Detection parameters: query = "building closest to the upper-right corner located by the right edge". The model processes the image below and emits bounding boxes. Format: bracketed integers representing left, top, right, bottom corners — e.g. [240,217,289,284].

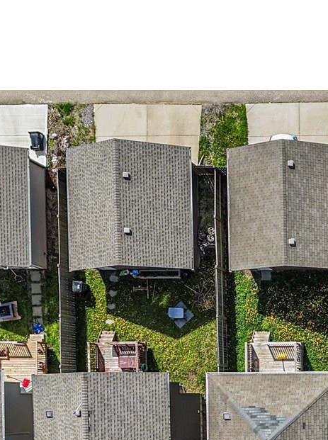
[226,140,328,275]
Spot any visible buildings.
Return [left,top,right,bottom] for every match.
[32,370,199,440]
[65,139,201,275]
[226,140,328,275]
[0,145,47,270]
[205,370,328,440]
